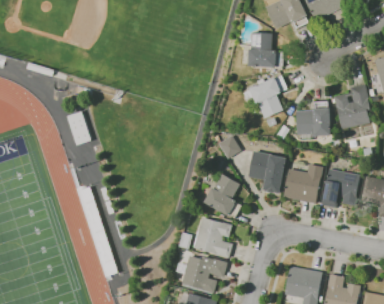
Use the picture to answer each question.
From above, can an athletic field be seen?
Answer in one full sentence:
Yes, the frame does contain an athletic field.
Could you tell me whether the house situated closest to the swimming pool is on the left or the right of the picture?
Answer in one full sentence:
It is on the right.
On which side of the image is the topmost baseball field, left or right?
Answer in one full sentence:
The topmost baseball field sits on the left side.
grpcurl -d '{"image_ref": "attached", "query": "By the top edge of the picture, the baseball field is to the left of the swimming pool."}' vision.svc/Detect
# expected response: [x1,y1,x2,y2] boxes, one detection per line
[0,0,233,114]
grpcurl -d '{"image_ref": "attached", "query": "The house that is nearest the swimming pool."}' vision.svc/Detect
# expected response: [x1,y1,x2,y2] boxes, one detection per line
[248,30,277,67]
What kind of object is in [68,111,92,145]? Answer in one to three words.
building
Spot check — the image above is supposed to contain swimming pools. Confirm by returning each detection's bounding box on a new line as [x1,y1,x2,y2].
[241,20,260,44]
